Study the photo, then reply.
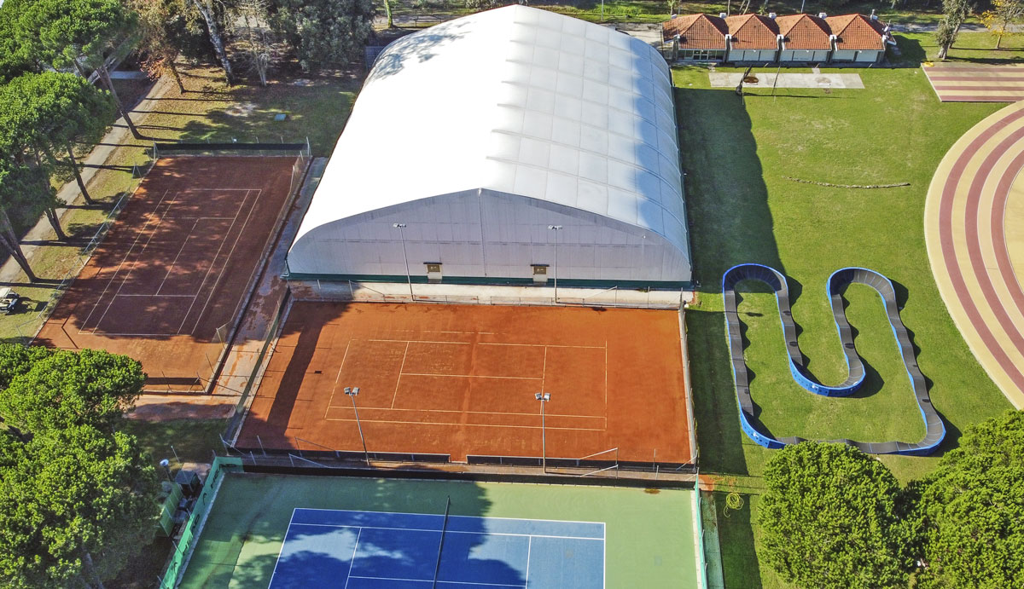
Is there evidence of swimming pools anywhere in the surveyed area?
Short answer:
No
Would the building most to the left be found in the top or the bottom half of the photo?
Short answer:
top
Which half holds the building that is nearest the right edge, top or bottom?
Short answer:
top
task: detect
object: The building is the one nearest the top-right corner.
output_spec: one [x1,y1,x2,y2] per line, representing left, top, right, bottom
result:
[658,4,904,65]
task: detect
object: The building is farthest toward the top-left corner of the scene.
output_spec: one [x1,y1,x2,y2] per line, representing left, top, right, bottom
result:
[283,4,704,290]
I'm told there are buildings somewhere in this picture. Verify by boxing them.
[658,4,904,65]
[283,4,704,290]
